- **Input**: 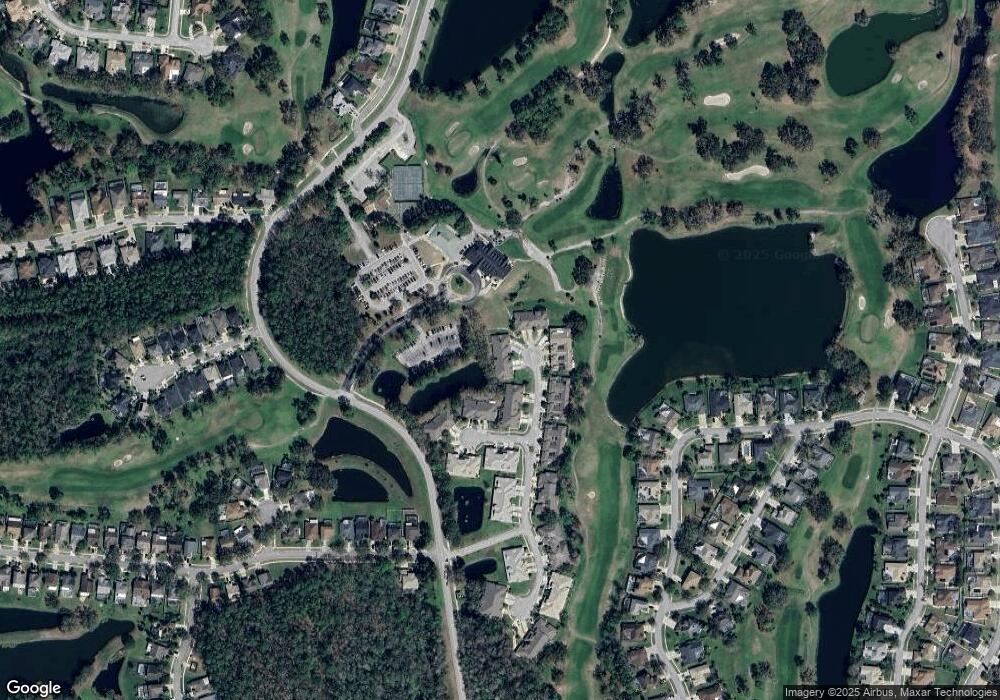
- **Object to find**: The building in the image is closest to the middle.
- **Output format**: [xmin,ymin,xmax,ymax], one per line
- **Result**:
[489,335,511,382]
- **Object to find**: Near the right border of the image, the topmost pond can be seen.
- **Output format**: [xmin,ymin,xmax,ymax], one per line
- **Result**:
[869,0,988,218]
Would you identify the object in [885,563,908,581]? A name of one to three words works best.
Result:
house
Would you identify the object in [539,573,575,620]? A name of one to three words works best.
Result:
building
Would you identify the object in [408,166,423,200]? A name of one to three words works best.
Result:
tennis court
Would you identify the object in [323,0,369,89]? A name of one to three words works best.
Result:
pond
